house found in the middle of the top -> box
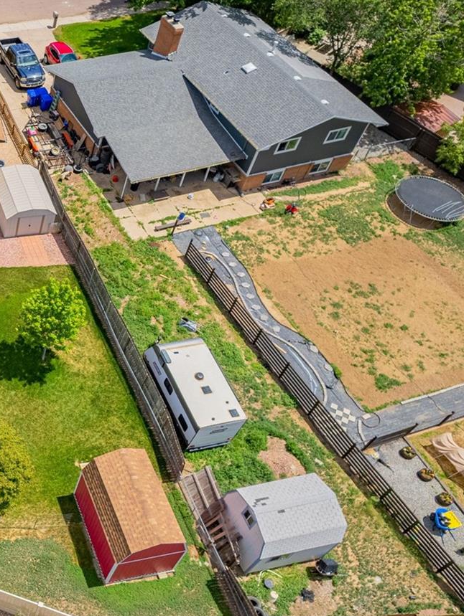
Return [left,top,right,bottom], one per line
[50,0,387,201]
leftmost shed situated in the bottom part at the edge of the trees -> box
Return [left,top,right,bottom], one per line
[66,448,193,583]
